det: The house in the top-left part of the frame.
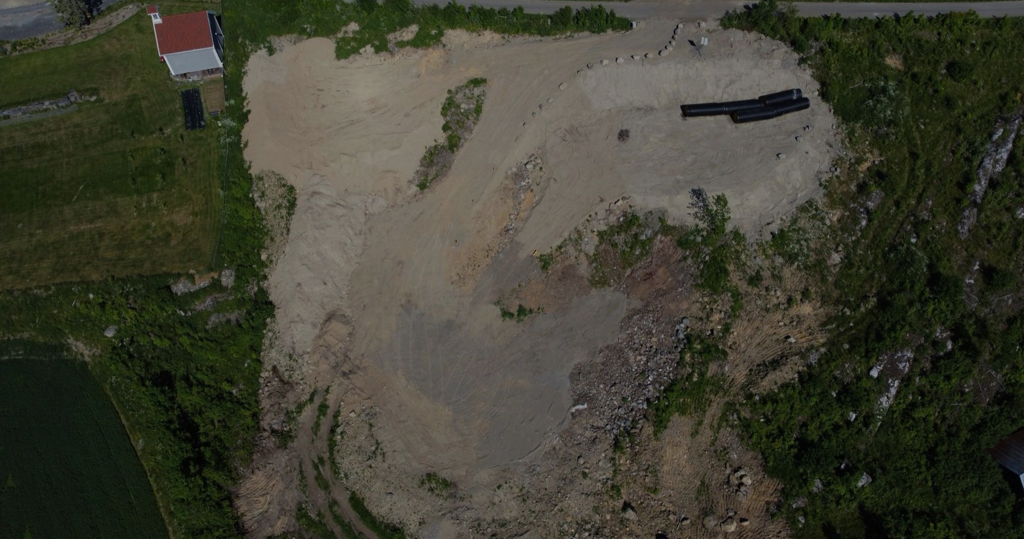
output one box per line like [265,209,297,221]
[150,0,225,86]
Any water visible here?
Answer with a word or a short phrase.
No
